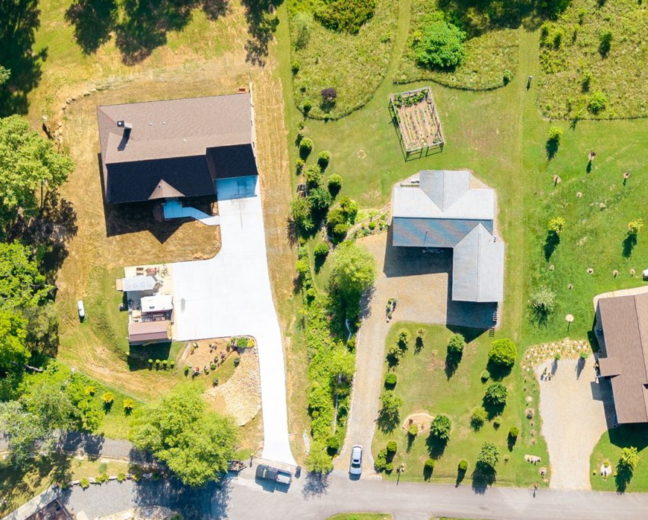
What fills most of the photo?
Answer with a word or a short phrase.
grass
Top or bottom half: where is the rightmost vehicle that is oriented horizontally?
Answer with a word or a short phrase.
bottom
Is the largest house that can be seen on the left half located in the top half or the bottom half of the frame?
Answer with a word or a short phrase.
top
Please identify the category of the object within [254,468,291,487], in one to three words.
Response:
vehicle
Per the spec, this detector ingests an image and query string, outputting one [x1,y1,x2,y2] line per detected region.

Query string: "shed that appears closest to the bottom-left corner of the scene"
[129,320,173,342]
